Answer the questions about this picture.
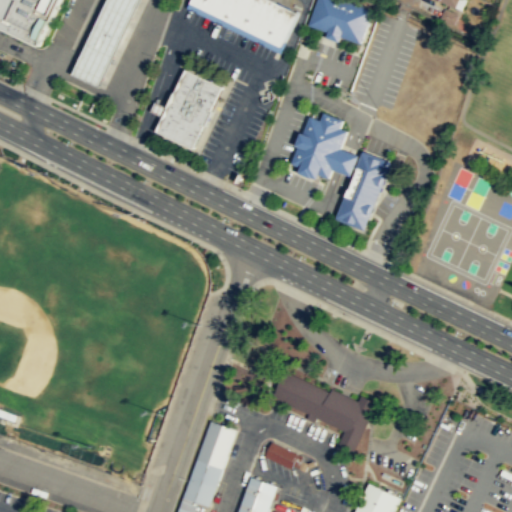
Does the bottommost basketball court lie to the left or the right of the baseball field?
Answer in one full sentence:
The bottommost basketball court is to the right of the baseball field.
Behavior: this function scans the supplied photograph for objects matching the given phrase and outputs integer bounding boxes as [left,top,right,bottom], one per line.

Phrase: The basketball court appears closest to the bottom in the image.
[412,160,512,310]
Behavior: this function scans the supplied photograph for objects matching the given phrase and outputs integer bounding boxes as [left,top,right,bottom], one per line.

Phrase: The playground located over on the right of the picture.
[470,140,512,177]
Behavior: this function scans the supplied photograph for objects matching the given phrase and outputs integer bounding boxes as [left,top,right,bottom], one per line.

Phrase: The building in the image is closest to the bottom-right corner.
[356,484,404,512]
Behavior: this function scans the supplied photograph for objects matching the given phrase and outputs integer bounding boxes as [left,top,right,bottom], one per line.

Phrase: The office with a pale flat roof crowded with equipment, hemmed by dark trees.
[155,70,227,152]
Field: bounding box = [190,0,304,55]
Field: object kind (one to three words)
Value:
building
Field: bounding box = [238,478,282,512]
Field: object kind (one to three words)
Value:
shed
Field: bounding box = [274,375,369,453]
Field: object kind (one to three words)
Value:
building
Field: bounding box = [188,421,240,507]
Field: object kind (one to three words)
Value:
shed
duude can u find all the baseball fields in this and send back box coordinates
[0,148,210,486]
